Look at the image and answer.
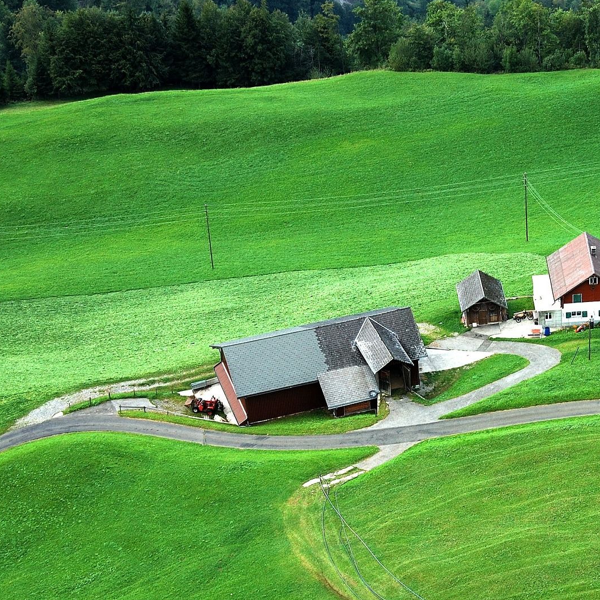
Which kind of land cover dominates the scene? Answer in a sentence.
The largest share of the image is taken up by grass.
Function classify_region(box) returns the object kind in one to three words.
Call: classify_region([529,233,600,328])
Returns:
house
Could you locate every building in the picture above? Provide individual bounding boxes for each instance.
[456,270,508,329]
[209,307,429,427]
[529,233,600,328]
